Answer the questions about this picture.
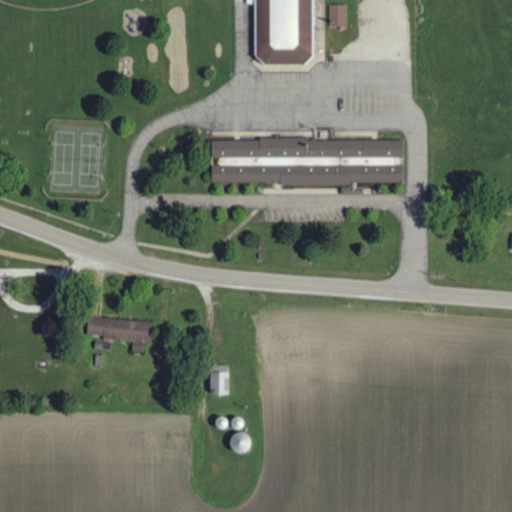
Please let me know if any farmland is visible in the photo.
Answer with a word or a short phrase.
Yes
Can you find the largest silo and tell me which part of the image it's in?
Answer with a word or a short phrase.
bottom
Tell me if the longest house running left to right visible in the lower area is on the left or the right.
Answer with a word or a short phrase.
left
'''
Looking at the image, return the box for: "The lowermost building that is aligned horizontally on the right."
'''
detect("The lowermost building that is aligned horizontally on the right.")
[212,138,404,186]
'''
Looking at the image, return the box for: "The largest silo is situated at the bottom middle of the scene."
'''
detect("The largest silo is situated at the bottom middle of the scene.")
[230,431,252,454]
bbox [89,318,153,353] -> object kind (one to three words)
house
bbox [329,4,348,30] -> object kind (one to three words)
shed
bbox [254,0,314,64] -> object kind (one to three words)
building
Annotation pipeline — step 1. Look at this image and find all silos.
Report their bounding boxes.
[230,416,245,431]
[230,431,252,454]
[215,416,230,431]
